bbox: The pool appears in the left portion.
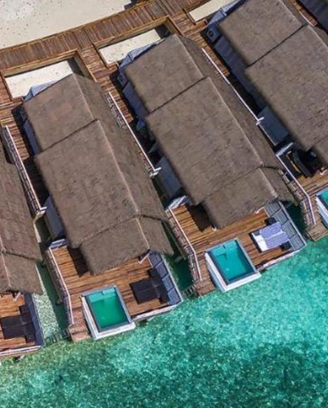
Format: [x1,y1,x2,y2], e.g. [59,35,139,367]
[78,287,136,343]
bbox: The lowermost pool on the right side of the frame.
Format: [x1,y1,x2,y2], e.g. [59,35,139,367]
[201,238,261,296]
